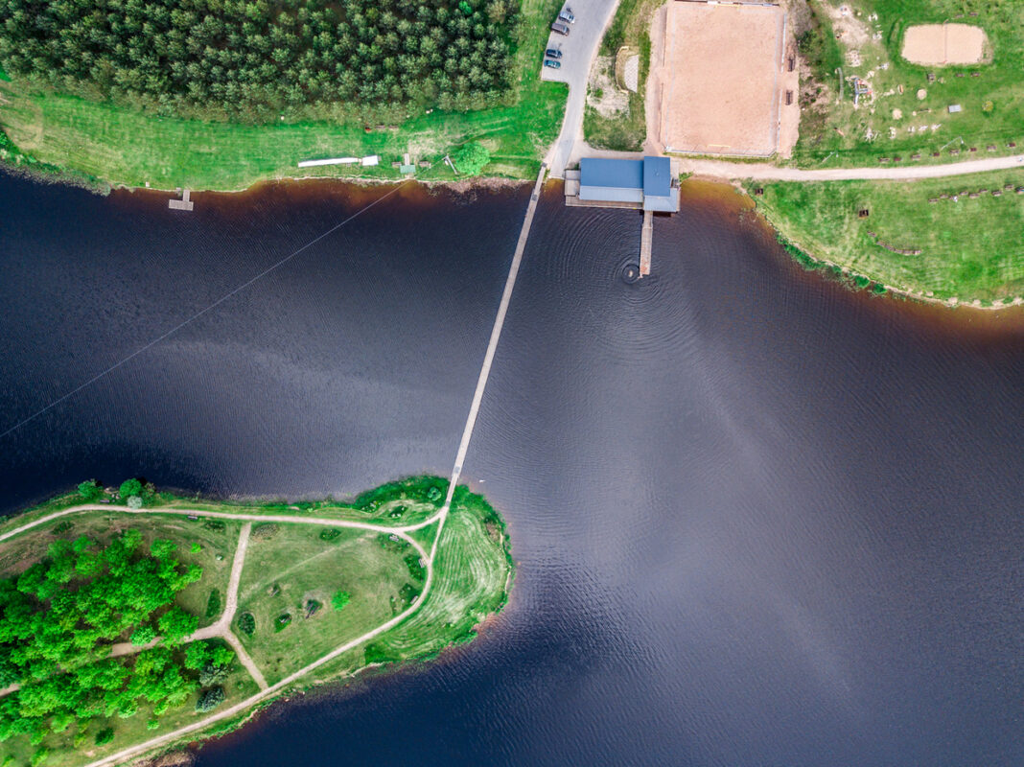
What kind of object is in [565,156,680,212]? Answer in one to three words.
building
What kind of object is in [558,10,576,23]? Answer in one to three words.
vehicle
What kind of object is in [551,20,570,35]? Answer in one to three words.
car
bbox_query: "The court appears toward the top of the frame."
[902,21,988,66]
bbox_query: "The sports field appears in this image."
[660,0,787,156]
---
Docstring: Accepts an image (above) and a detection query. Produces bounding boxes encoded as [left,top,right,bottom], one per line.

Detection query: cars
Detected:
[551,20,570,35]
[546,48,563,58]
[544,58,561,68]
[558,10,576,23]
